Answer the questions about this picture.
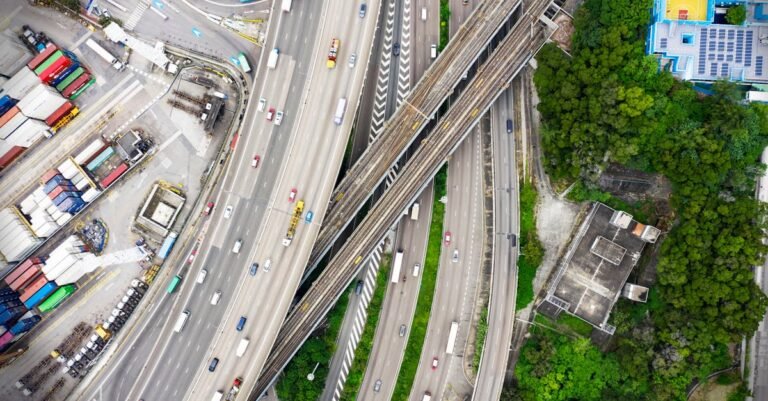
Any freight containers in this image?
Yes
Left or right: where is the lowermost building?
right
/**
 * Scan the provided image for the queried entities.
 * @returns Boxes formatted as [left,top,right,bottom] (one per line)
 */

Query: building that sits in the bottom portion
[536,202,662,346]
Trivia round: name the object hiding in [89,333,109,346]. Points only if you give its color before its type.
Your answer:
white vehicle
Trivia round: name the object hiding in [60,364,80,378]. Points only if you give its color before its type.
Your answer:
white vehicle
